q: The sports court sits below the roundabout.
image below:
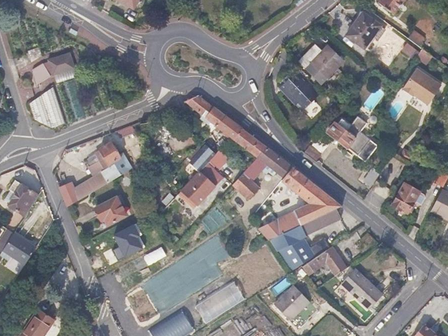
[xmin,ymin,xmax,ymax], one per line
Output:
[142,234,228,312]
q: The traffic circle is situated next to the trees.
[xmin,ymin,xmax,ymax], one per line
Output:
[138,22,262,110]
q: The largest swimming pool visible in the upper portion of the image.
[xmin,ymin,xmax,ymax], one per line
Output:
[362,88,385,110]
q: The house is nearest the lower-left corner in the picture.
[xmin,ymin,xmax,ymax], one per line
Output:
[21,312,54,336]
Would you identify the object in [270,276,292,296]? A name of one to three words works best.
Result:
swimming pool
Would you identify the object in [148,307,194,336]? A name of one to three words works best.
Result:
building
